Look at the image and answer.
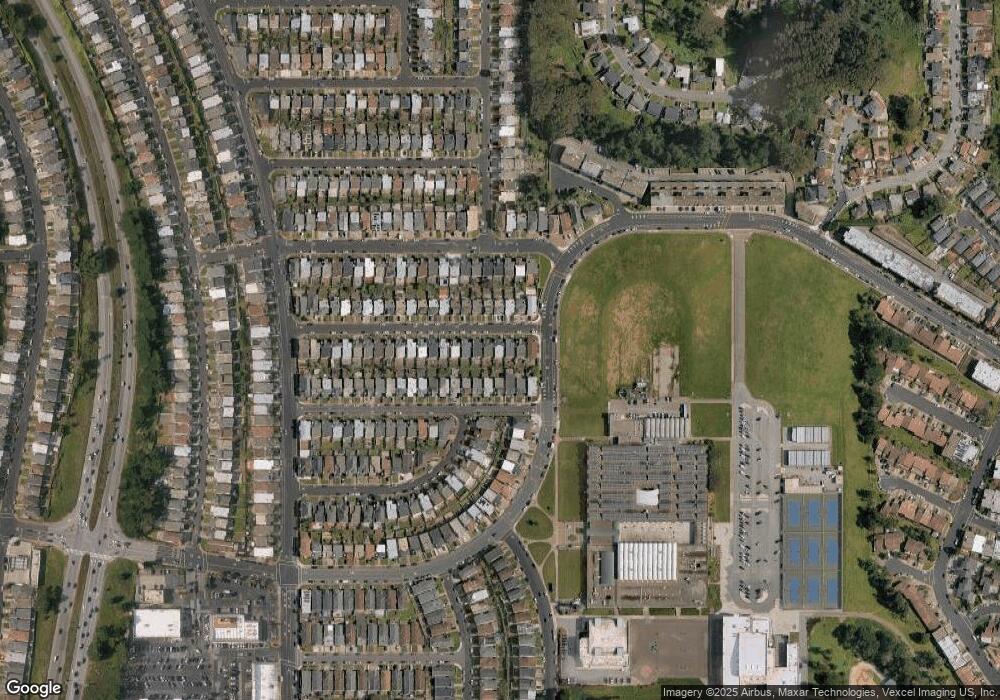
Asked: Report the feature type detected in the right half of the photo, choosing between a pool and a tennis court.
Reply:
tennis court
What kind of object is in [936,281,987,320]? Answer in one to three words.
building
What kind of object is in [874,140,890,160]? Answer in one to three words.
house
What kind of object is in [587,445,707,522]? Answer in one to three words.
building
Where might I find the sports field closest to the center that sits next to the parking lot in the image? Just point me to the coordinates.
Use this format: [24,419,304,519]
[561,232,731,437]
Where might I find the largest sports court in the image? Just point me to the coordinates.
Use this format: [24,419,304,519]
[631,618,707,684]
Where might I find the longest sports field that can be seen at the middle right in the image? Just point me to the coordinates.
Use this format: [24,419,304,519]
[746,235,872,608]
